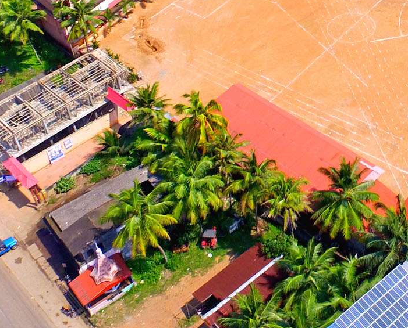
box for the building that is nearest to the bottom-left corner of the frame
[73,245,135,315]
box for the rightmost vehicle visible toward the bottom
[199,228,217,253]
